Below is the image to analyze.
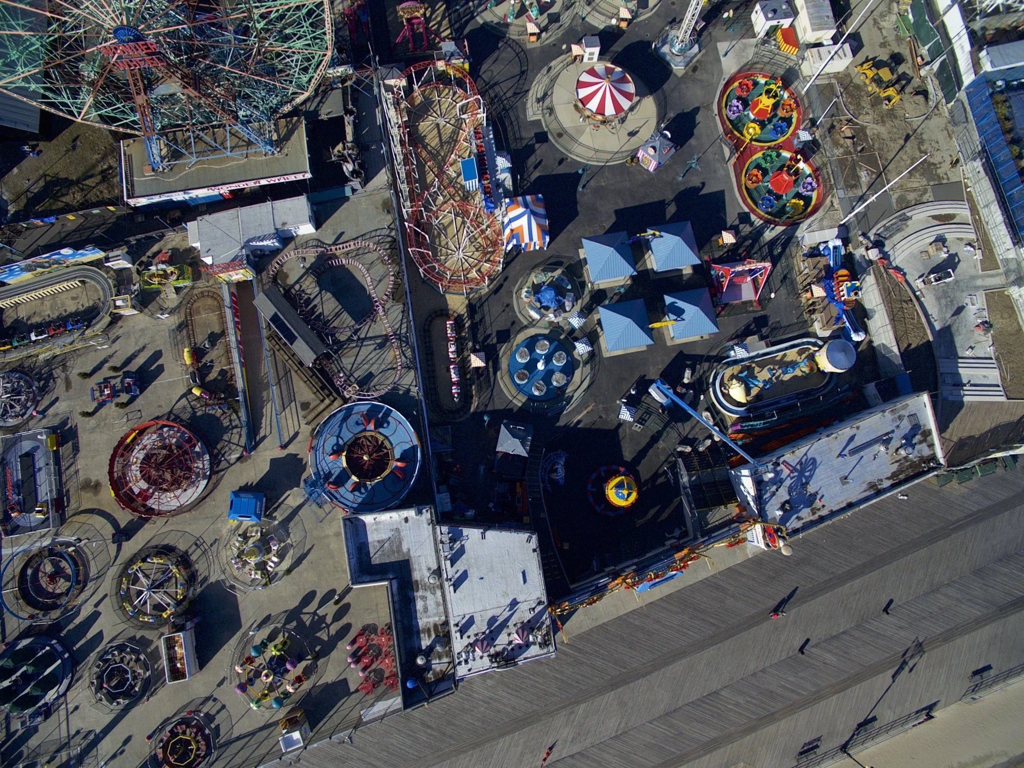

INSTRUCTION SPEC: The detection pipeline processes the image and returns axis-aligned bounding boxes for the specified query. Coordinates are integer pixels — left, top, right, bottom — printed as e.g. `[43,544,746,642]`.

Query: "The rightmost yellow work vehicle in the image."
[852,60,902,110]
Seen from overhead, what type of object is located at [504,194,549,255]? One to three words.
tent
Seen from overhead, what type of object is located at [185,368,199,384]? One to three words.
rail car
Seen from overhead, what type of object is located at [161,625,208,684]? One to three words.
trailer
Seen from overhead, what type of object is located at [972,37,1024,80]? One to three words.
house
